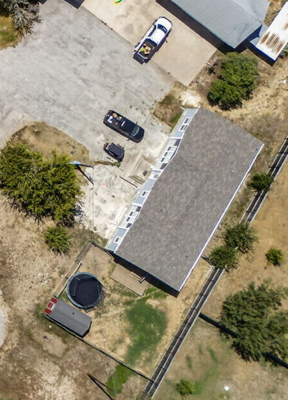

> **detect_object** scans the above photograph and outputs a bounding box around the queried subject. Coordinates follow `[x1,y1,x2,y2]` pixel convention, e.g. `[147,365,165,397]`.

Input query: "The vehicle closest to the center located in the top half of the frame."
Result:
[99,141,124,162]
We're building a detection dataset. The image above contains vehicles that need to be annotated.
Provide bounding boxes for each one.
[100,111,145,142]
[99,141,124,162]
[131,14,171,61]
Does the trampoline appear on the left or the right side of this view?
left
